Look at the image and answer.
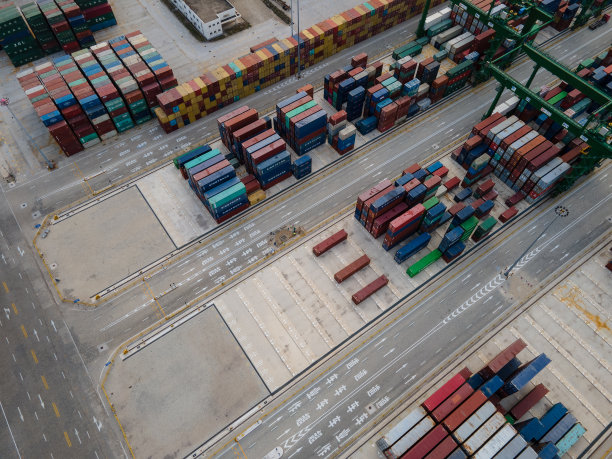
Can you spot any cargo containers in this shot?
Yes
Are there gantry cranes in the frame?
Yes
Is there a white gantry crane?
No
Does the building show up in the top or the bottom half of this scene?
top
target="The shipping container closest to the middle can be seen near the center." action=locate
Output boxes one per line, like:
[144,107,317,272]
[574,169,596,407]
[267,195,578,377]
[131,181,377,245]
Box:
[313,229,348,258]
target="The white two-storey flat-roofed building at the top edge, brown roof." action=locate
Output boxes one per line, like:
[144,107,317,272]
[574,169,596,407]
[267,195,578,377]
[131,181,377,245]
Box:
[170,0,243,39]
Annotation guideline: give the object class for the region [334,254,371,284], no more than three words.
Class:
shipping container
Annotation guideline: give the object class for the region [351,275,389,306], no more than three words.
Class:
shipping container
